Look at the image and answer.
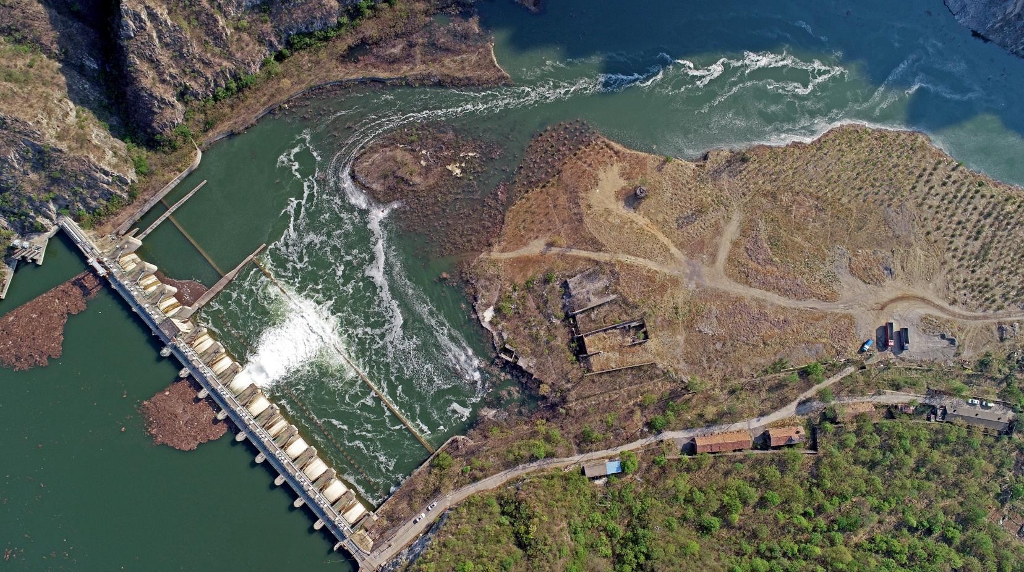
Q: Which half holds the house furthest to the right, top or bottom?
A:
bottom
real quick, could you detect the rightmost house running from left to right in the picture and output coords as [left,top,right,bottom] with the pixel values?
[924,404,1013,431]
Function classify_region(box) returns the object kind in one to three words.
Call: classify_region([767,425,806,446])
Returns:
house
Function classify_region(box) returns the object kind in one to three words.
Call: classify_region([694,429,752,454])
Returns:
house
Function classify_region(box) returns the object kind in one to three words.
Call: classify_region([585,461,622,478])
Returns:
shed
